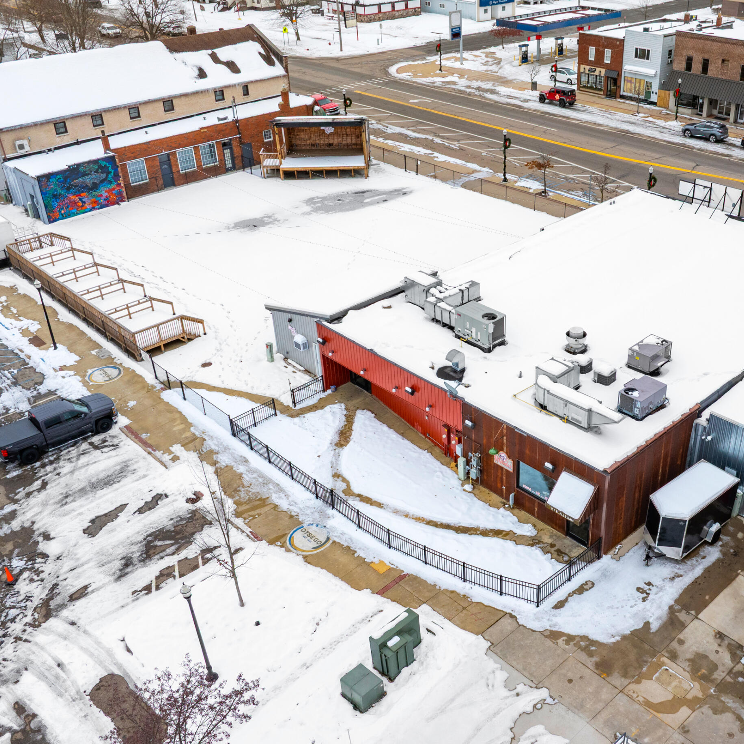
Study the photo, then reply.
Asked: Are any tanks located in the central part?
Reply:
No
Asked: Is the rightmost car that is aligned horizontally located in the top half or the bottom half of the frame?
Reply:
top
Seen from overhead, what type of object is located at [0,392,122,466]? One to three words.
truck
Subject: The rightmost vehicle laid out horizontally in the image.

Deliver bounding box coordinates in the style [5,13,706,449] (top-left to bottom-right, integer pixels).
[681,119,731,141]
